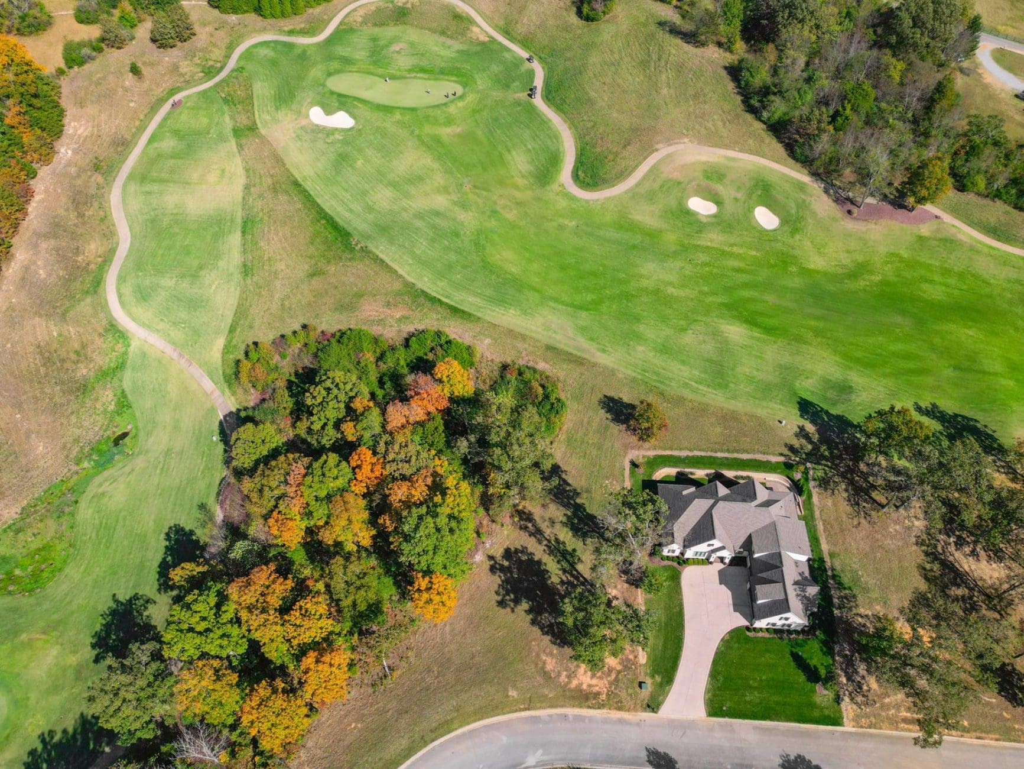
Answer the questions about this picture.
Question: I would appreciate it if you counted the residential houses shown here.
1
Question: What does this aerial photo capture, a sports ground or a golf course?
golf course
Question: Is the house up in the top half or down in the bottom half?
bottom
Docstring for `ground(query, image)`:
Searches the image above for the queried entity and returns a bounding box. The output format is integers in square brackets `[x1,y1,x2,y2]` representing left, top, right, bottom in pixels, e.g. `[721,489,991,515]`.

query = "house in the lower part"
[657,477,820,631]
